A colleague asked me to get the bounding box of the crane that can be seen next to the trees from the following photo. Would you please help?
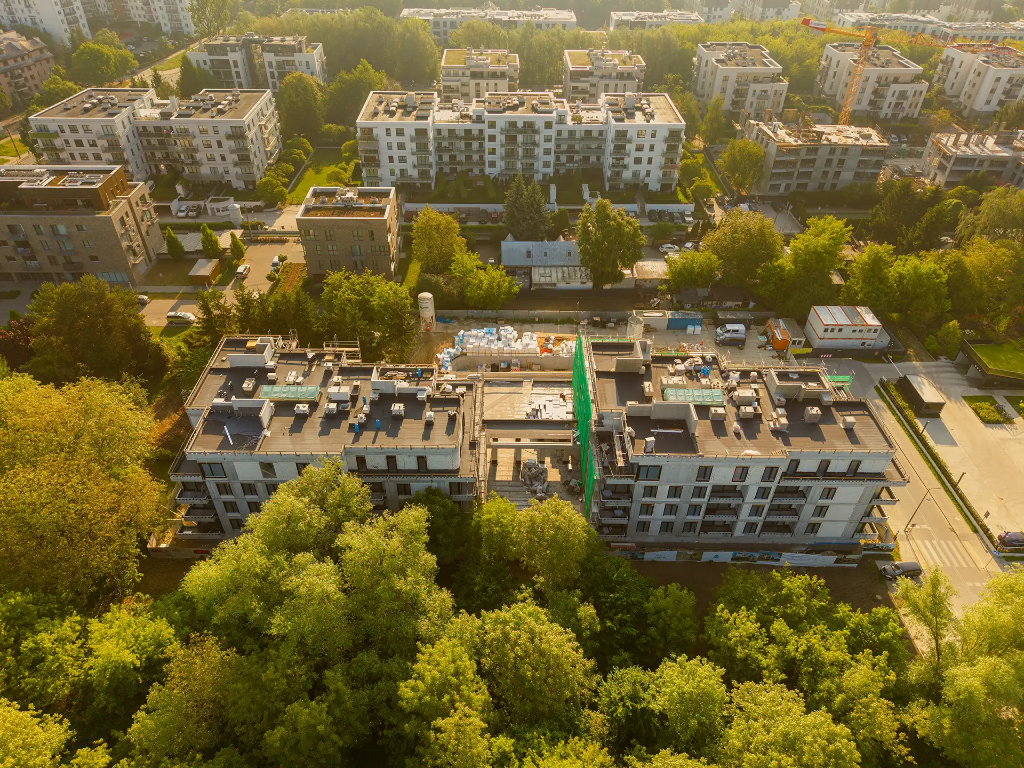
[774,25,1024,127]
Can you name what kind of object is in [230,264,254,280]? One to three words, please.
car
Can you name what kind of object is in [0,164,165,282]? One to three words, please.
building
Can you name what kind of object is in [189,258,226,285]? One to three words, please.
shed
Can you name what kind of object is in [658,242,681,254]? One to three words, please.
vehicle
